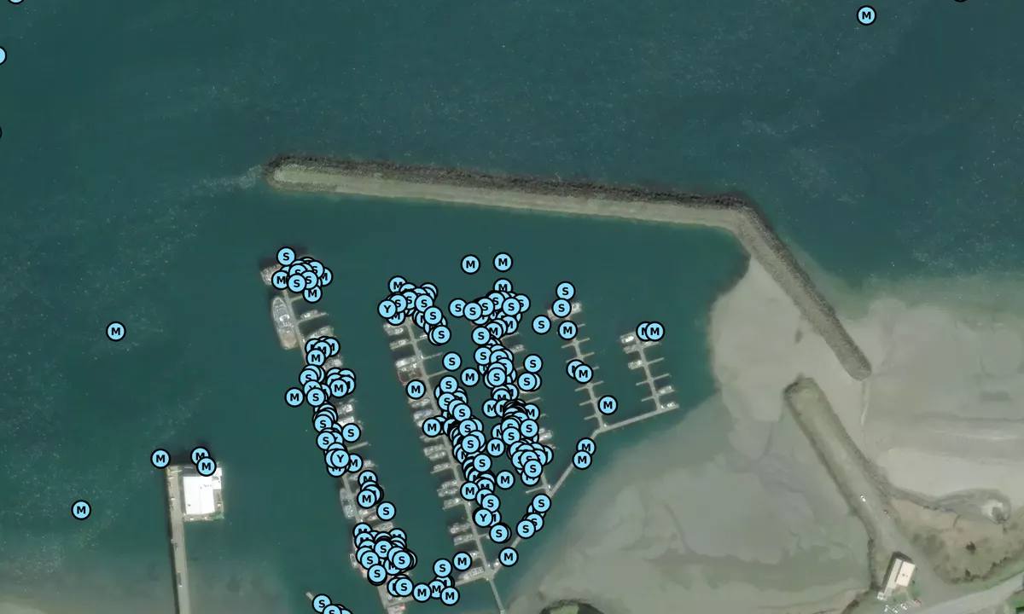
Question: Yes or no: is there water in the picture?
Yes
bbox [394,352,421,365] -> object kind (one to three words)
boat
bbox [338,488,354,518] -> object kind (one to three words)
boat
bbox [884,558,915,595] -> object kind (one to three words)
building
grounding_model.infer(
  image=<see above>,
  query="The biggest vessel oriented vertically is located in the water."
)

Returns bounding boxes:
[272,297,296,351]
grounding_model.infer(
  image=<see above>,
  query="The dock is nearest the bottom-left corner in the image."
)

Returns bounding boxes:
[166,466,224,614]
